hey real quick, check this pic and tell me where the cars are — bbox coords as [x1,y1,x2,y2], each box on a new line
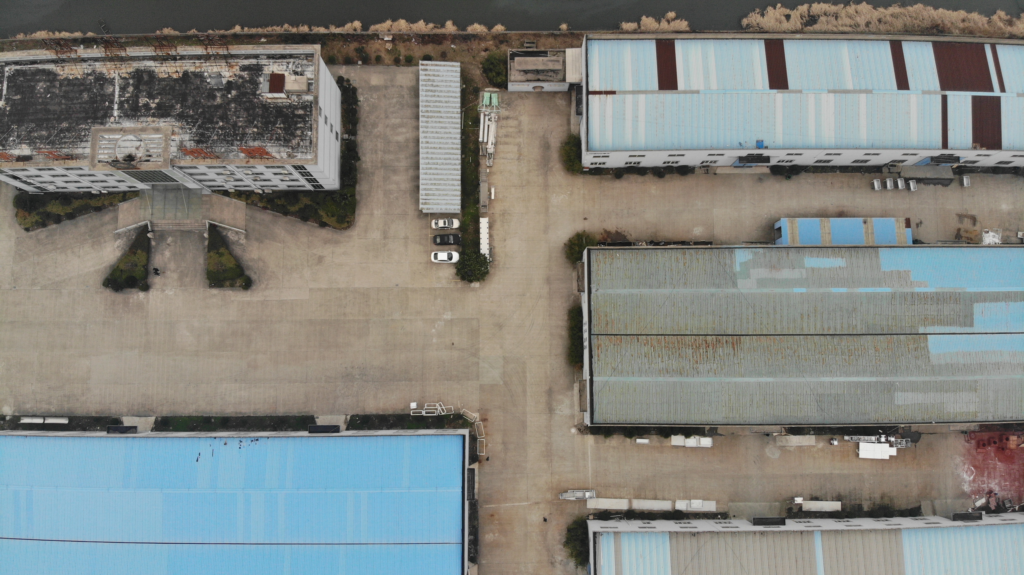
[433,233,461,246]
[431,250,459,263]
[431,218,460,231]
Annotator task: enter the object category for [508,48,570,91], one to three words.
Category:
building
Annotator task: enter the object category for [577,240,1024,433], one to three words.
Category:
warehouse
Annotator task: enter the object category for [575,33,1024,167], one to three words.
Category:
warehouse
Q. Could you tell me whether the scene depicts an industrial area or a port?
industrial area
